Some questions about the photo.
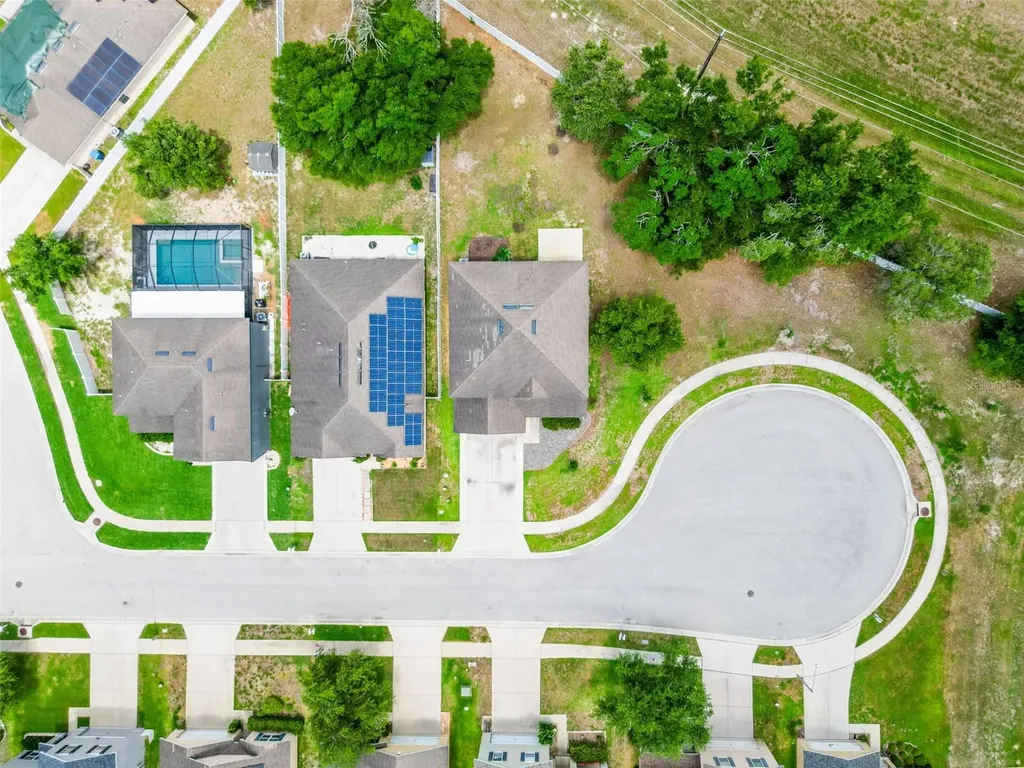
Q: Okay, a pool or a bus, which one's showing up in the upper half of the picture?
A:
pool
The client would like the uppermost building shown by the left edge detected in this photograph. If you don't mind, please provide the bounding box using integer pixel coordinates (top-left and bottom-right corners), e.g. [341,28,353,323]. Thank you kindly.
[0,0,196,166]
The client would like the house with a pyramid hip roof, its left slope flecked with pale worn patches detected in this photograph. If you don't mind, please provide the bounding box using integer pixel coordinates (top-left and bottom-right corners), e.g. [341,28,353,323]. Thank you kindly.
[449,261,589,435]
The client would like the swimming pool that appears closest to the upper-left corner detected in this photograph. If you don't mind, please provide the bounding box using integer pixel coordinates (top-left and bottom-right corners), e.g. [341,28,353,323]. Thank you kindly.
[152,236,240,288]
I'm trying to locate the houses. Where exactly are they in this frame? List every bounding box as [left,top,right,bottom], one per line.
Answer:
[449,261,589,435]
[287,259,425,458]
[0,0,196,166]
[635,737,784,768]
[337,734,448,768]
[112,290,269,463]
[797,739,894,768]
[158,728,297,768]
[474,732,612,768]
[0,728,156,768]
